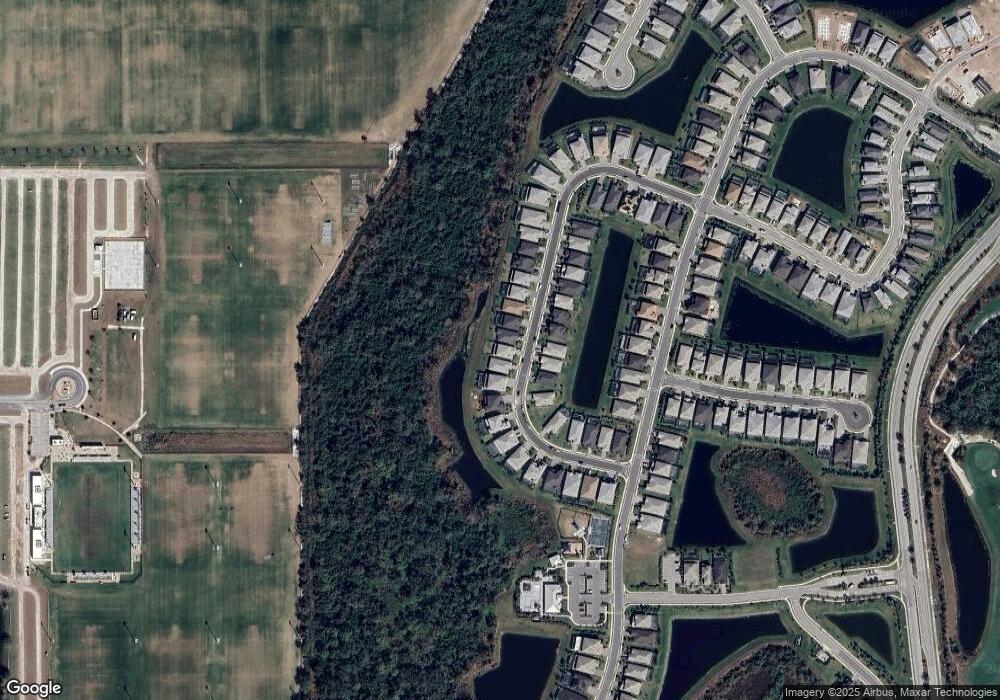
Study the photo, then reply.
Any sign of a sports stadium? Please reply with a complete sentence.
Yes, there's a sports stadium here.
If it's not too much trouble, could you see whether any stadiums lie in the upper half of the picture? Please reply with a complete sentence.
No, there is no stadium in the upper half of the picture.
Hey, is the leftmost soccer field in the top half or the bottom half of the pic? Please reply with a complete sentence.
You can find the leftmost soccer field in the top half.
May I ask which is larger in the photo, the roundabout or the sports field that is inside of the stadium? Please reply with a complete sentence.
Of the two, the sports field is larger and the roundabout is the smaller one.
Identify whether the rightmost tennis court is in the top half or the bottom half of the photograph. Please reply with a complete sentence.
The rightmost tennis court sits in the bottom half of the picture.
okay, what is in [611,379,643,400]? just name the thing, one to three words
house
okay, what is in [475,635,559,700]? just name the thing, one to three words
pond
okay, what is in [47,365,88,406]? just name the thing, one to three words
roundabout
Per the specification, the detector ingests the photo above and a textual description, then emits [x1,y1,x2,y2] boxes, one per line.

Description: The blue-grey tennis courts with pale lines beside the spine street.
[588,516,610,548]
